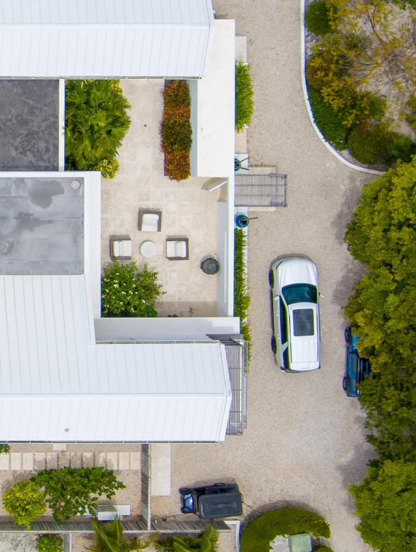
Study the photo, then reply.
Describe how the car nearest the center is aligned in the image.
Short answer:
vertically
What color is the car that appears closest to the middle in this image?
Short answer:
white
